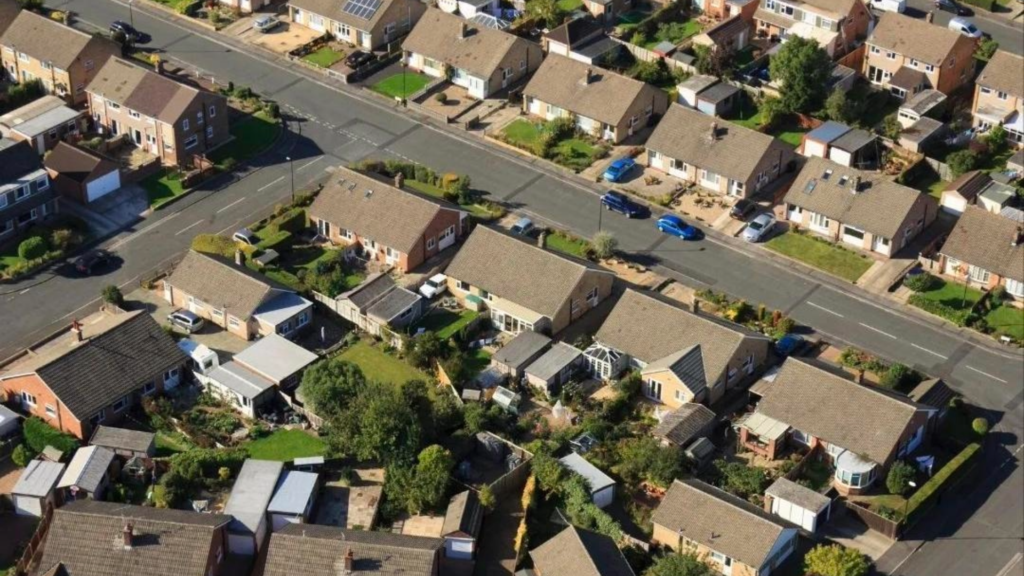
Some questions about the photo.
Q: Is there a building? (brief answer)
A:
Yes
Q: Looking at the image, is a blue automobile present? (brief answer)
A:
Yes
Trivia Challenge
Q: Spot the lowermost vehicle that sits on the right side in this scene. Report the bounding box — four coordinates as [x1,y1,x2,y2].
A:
[772,328,810,357]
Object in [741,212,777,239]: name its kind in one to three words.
car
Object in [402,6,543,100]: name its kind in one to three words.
house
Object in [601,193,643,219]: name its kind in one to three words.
car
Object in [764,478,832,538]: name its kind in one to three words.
building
